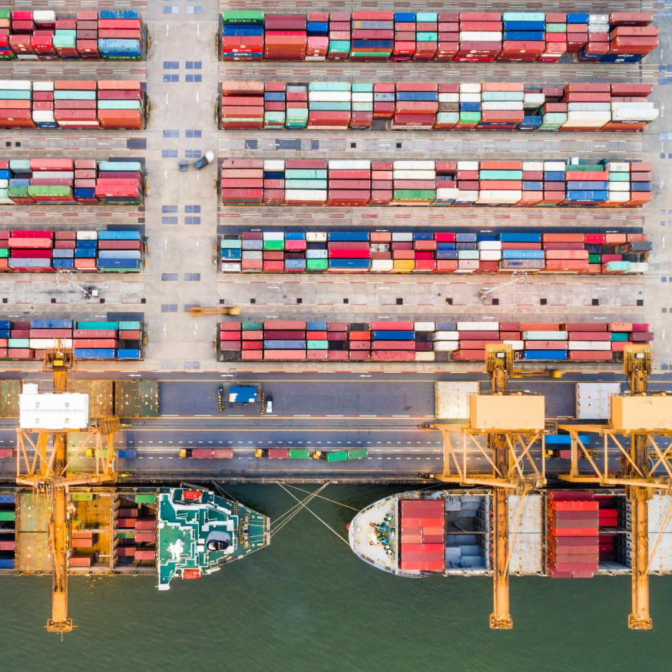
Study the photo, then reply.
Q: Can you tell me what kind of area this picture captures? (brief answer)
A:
port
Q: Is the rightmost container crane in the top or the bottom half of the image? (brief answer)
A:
bottom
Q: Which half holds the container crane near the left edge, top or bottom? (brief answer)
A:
bottom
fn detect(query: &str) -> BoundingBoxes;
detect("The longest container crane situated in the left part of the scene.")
[16,337,132,643]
